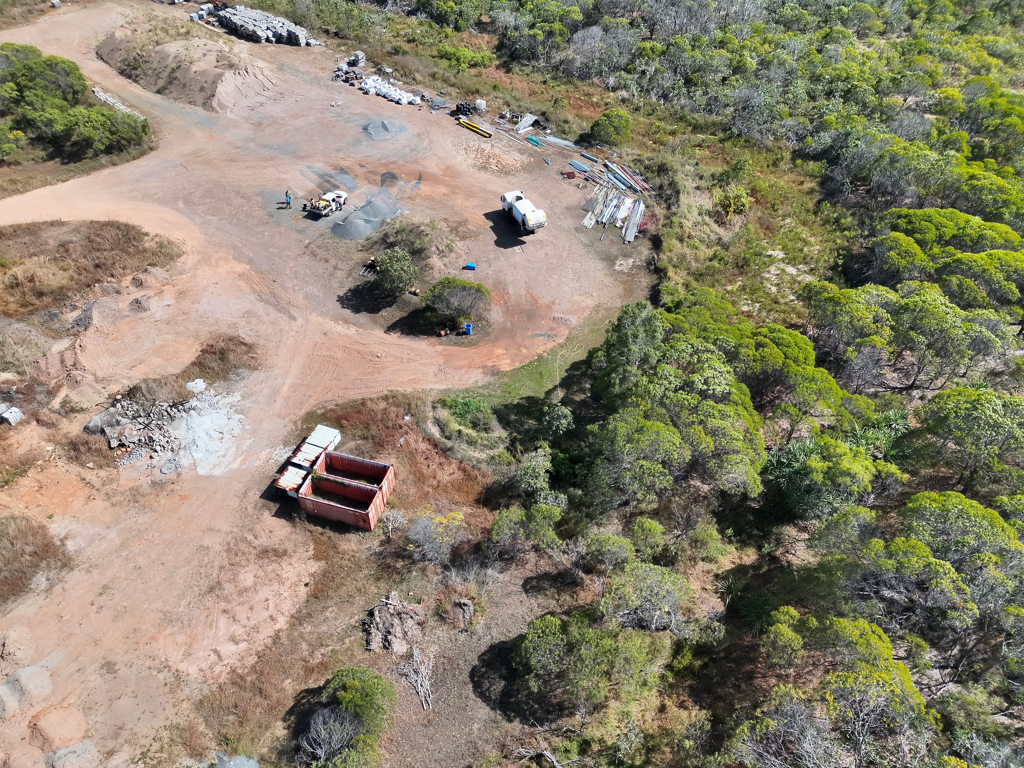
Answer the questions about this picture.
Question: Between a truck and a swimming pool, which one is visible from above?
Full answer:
It is a truck that can be seen here.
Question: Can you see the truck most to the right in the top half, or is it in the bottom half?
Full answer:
You can find the truck most to the right in the top half.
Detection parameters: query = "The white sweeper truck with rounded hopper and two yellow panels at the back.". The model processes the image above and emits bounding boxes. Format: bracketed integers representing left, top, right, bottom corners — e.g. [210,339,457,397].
[501,193,543,235]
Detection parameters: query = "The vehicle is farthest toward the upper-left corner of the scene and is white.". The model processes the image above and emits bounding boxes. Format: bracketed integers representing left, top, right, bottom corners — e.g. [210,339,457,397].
[311,191,349,217]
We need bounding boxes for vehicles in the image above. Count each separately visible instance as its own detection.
[311,191,349,217]
[501,193,543,235]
